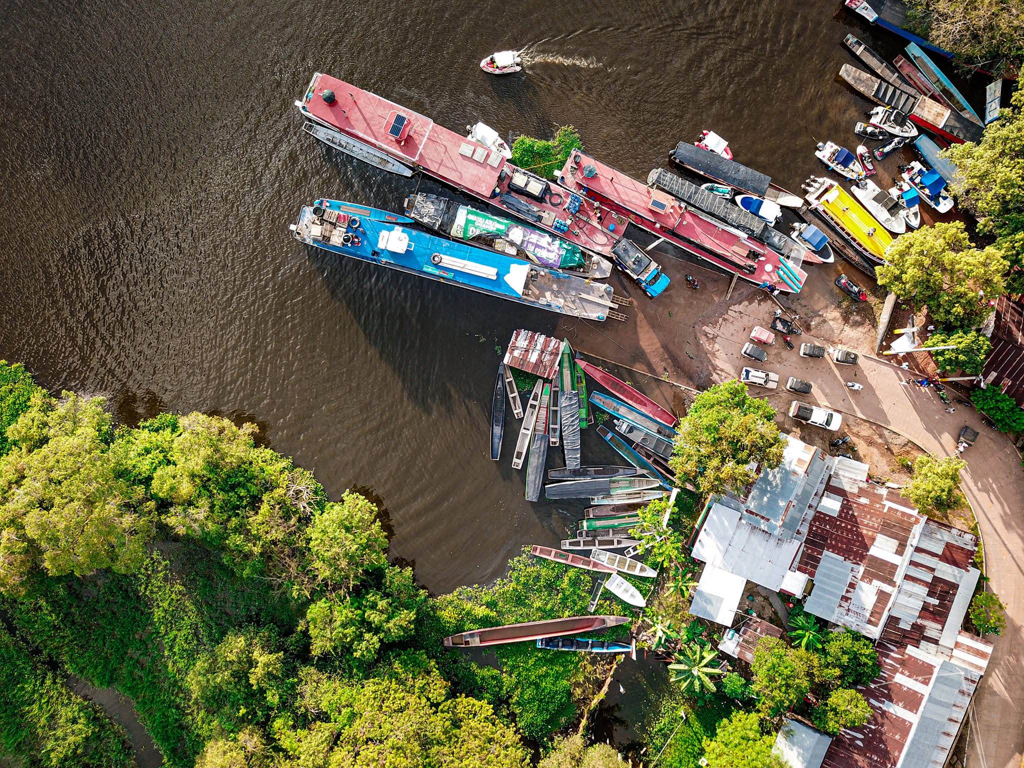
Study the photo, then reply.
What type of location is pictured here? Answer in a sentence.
This looks like a port.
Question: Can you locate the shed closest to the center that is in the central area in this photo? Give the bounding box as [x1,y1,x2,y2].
[501,325,568,382]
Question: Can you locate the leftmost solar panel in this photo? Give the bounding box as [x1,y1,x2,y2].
[389,114,408,138]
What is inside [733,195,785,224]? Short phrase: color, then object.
white boat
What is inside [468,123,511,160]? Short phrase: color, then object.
white boat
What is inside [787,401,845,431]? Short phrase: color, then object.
white truck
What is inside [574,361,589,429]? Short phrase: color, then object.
green boat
